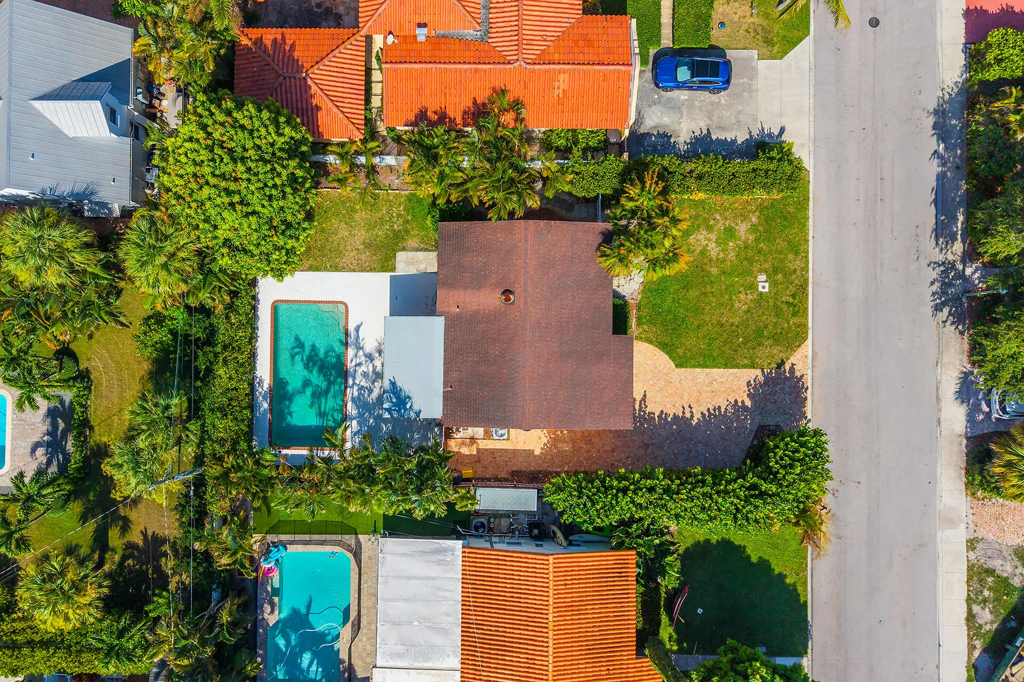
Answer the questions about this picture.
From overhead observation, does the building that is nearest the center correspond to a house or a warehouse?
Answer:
house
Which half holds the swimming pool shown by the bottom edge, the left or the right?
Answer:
left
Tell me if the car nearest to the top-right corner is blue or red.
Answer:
blue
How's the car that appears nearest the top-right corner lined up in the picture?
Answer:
from side to side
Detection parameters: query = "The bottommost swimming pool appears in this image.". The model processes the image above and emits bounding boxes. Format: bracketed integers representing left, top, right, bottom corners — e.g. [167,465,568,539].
[265,550,352,682]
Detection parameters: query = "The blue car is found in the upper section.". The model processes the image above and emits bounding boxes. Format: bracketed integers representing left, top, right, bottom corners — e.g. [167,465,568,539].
[654,50,735,92]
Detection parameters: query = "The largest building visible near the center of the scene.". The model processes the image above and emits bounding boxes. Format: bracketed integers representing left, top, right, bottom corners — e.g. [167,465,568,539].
[382,218,633,432]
